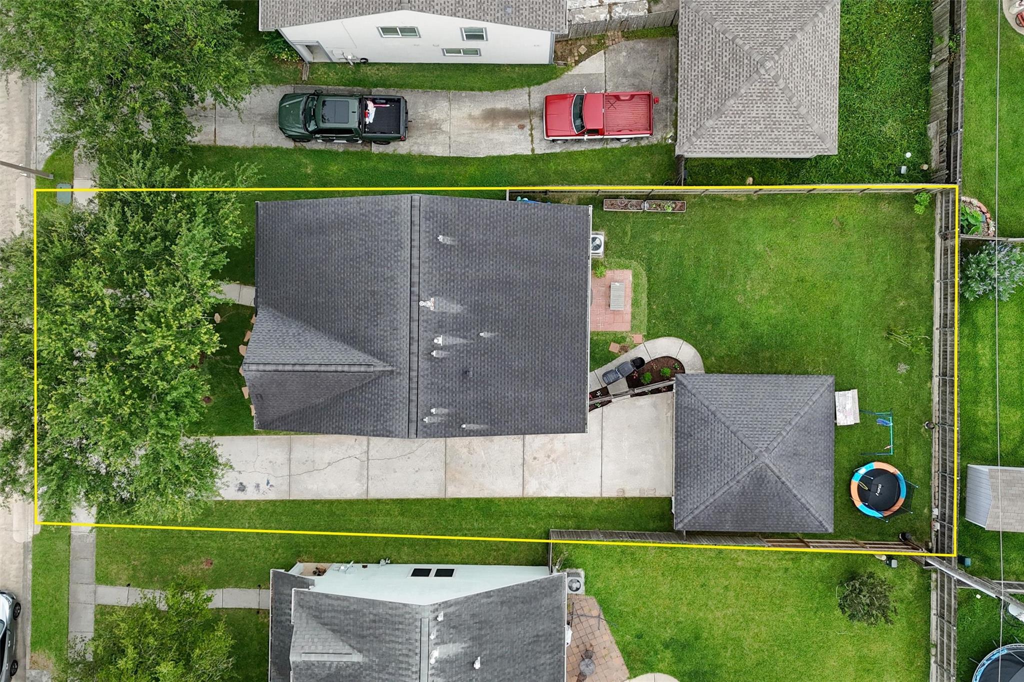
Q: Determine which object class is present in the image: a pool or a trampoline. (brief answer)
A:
trampoline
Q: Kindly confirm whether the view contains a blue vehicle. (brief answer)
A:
No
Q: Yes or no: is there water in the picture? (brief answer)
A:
No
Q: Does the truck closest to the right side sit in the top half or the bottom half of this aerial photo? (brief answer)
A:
top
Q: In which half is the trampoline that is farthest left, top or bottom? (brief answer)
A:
bottom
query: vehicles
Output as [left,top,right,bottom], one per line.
[540,85,655,142]
[0,590,25,682]
[278,85,414,144]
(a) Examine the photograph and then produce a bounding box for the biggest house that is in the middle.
[242,194,595,439]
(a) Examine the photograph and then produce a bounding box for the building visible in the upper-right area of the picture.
[674,0,841,159]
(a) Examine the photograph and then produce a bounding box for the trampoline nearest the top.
[847,461,919,525]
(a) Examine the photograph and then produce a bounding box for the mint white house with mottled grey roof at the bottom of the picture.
[267,559,570,682]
